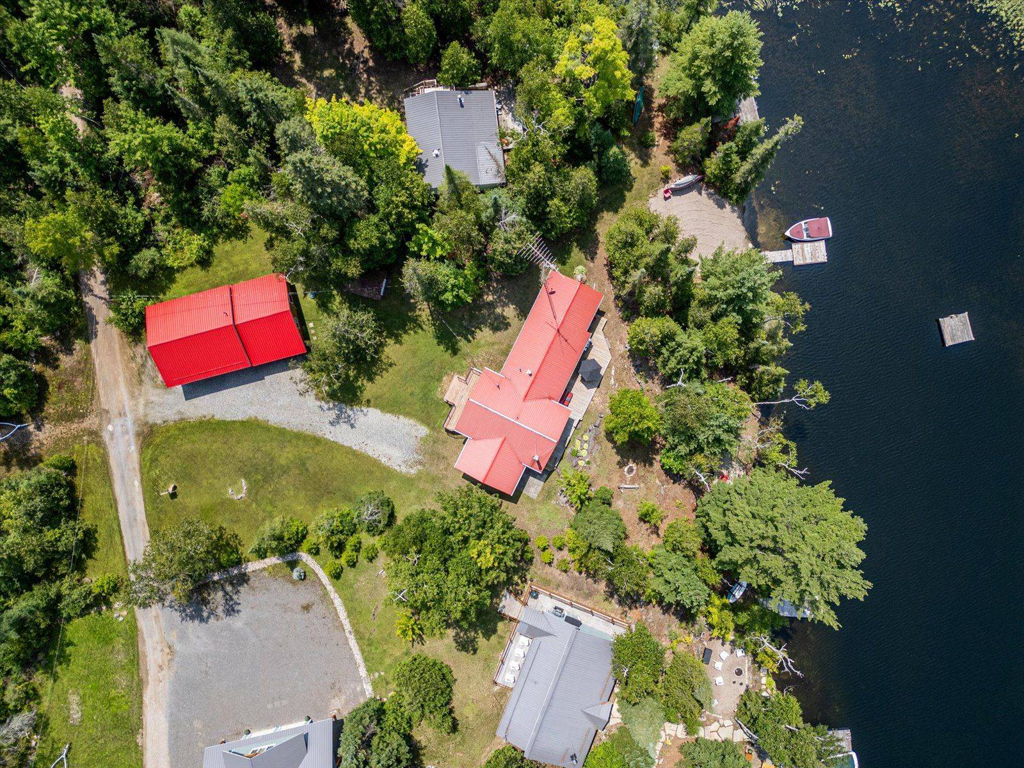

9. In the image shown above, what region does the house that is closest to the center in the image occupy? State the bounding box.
[455,270,603,496]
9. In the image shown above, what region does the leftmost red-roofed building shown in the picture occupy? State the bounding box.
[145,273,309,388]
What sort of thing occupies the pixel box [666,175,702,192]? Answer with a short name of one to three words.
boat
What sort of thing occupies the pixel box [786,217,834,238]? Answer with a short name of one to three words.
boat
